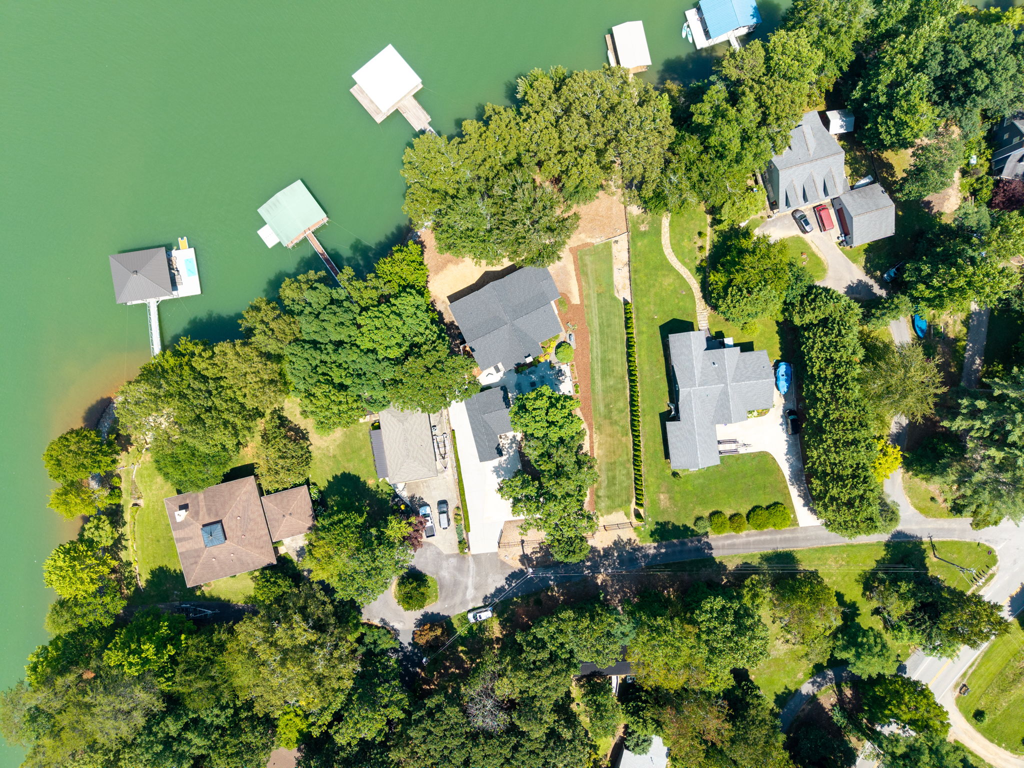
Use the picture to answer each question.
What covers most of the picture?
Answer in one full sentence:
The largest share of the image is taken up by trees.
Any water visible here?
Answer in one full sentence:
Yes, there's water in this view.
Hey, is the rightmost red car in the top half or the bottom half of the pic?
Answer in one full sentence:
It is in the top half that the rightmost red car appears.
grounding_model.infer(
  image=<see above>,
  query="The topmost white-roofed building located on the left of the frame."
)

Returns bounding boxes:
[349,44,423,124]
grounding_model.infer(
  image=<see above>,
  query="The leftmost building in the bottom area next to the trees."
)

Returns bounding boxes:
[164,475,279,588]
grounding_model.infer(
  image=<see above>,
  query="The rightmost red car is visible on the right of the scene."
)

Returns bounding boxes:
[814,203,835,233]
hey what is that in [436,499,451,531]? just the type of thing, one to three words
car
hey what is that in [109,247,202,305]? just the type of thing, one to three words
building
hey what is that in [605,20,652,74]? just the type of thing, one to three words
building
